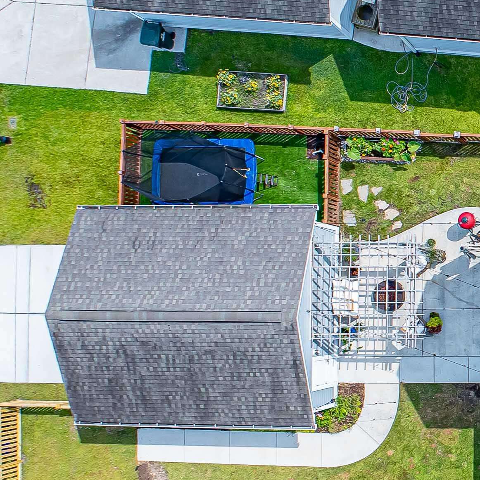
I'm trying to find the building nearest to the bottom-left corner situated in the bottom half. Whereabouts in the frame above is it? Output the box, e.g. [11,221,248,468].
[42,201,338,430]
